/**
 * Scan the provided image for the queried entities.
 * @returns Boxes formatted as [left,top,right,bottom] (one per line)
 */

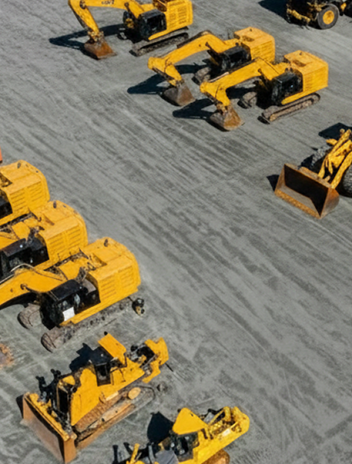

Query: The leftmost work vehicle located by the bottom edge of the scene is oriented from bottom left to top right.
[19,322,177,464]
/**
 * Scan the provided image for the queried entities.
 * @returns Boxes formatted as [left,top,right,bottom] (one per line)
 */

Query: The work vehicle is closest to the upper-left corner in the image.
[68,0,195,63]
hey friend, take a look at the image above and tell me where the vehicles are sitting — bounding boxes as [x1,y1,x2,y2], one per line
[195,49,325,135]
[19,322,177,464]
[286,0,352,29]
[68,0,195,63]
[148,26,273,104]
[129,386,254,464]
[0,162,47,233]
[0,239,139,370]
[275,126,352,222]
